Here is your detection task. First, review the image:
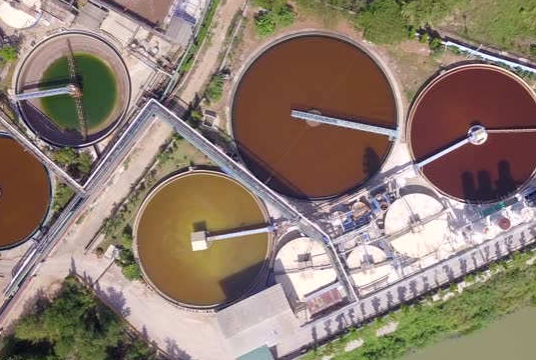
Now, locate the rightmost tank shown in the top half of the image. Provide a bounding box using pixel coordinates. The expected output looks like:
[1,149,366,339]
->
[405,63,536,204]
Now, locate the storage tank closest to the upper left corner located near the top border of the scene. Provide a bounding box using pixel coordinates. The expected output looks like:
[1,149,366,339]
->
[0,0,48,33]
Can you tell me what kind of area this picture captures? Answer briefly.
industrial area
